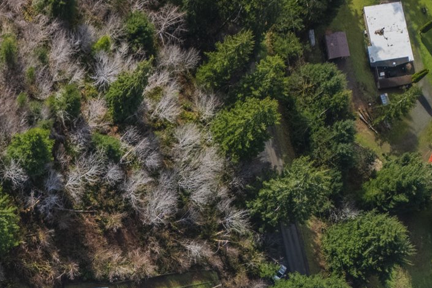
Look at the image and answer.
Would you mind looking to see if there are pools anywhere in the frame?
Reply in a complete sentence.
No, the frame has no pool in it.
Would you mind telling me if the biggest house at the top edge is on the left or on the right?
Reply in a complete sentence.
You can find the biggest house at the top edge on the right side of the picture.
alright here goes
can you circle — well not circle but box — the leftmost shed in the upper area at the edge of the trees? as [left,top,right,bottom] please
[323,32,349,61]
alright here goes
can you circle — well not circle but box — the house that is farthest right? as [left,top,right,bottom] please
[358,1,412,91]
